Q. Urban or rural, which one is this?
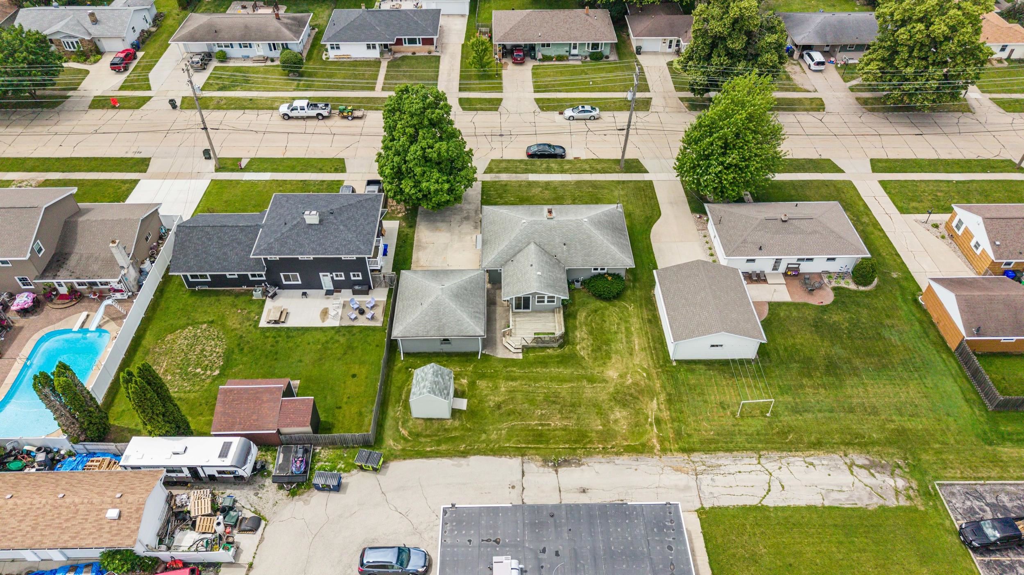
urban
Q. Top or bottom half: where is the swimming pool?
bottom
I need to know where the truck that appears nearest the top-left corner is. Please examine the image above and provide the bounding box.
[108,46,137,67]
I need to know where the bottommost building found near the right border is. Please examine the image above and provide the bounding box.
[920,277,1024,353]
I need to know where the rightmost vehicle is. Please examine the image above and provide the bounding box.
[958,515,1024,558]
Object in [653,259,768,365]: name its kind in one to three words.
building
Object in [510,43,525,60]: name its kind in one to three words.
car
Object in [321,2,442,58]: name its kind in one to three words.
house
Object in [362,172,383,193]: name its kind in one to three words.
truck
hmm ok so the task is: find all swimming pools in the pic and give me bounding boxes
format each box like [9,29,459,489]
[0,328,110,438]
